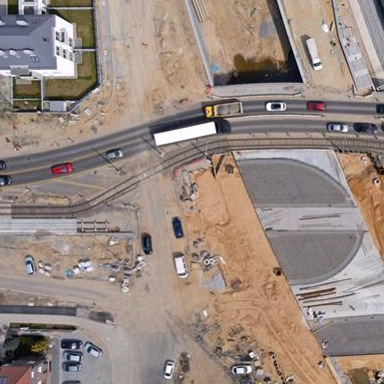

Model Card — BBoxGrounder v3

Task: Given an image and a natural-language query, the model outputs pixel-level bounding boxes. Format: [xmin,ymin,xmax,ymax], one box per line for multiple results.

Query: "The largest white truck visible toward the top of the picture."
[155,116,238,145]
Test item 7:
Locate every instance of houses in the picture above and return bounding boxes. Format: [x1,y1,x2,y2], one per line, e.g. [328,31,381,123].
[0,15,82,81]
[0,360,51,384]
